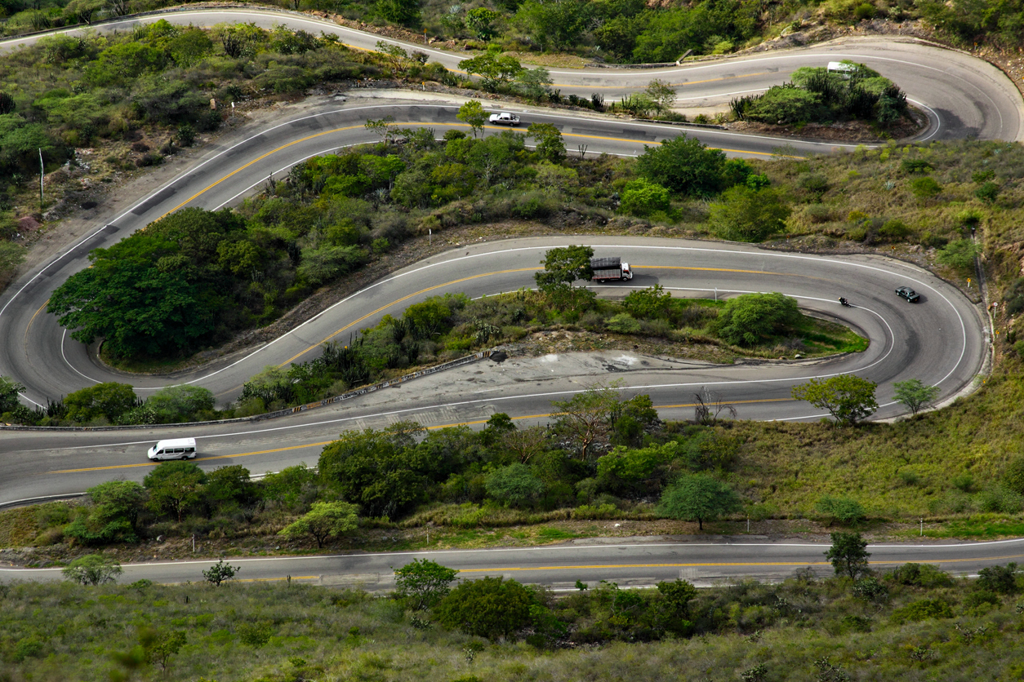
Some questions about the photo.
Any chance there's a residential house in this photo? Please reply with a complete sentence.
No, no residential house is visible in the view.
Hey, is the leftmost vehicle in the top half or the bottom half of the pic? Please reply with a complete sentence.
You can find the leftmost vehicle in the bottom half.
